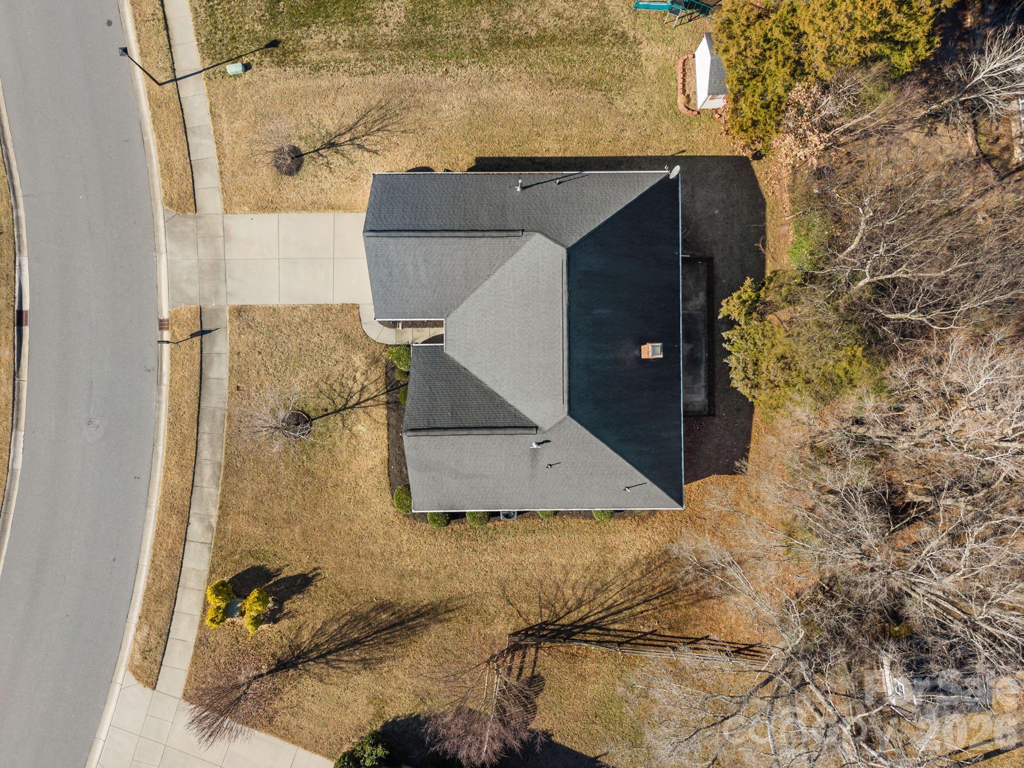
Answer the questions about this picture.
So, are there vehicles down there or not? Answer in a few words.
No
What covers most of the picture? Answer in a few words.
grass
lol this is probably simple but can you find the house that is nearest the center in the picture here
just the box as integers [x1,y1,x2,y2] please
[362,172,682,513]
